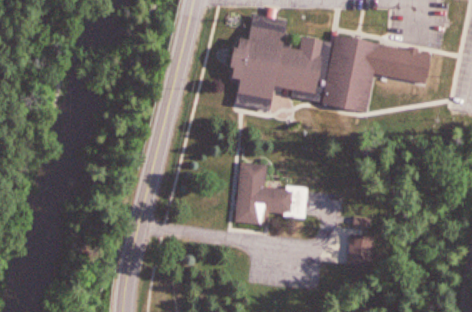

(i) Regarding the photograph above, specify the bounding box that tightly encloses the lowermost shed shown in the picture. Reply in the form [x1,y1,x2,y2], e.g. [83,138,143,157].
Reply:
[348,237,374,262]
